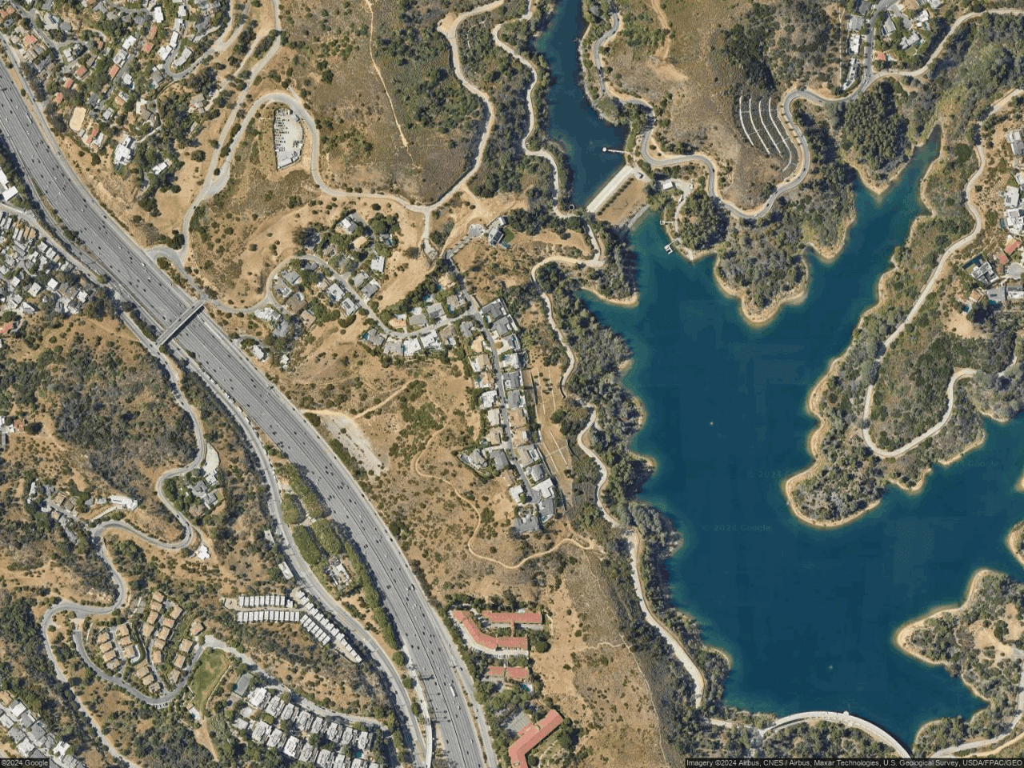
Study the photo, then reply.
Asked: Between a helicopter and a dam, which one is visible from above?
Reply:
dam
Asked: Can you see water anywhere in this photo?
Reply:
Yes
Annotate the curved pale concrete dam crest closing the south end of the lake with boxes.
[770,711,915,768]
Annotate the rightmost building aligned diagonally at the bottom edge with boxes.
[509,710,563,768]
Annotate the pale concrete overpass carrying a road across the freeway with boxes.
[154,294,208,348]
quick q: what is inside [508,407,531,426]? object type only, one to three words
house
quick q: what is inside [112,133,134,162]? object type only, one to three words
house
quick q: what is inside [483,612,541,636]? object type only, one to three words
building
